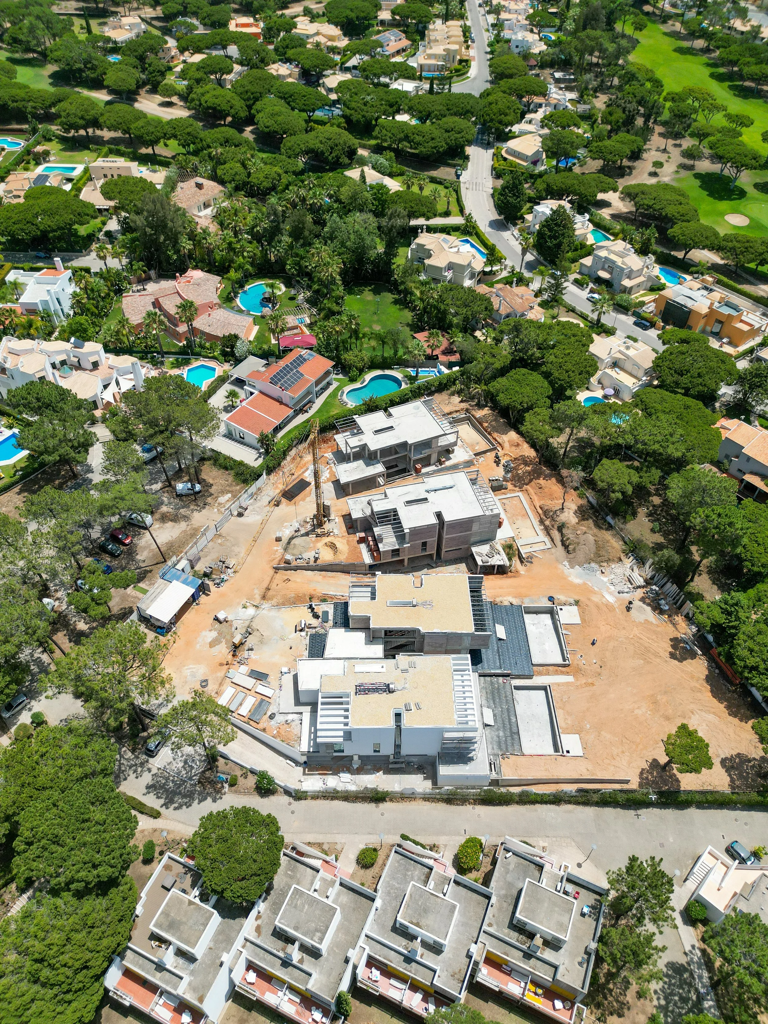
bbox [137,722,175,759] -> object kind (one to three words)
car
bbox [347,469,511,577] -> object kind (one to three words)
house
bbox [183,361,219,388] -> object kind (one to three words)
swimming pool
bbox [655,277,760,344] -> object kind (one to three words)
house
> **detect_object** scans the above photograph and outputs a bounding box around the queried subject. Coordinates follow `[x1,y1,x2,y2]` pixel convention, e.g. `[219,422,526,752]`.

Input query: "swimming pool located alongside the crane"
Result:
[341,371,407,407]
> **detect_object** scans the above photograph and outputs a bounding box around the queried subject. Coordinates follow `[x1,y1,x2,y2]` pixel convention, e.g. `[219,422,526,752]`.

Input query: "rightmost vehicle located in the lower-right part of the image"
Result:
[724,832,761,862]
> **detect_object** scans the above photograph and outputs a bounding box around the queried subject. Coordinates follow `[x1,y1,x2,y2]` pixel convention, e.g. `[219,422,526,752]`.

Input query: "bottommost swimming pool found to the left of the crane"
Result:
[0,430,24,463]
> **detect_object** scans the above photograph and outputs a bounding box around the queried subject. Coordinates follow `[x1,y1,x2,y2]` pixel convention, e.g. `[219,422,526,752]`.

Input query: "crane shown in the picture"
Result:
[233,413,336,574]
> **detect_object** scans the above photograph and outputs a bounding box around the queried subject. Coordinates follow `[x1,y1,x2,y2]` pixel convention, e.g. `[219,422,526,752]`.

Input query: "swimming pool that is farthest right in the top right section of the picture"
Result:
[656,265,687,285]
